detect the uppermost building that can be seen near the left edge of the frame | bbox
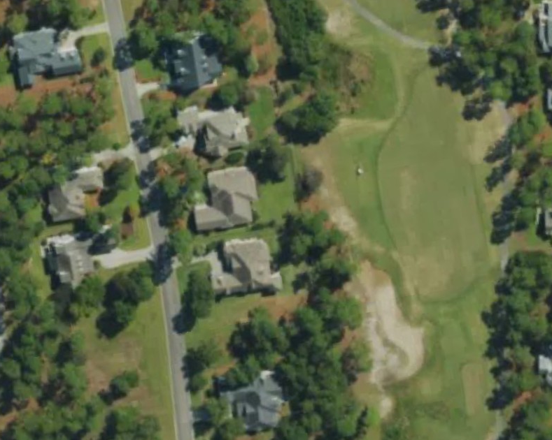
[11,25,83,86]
